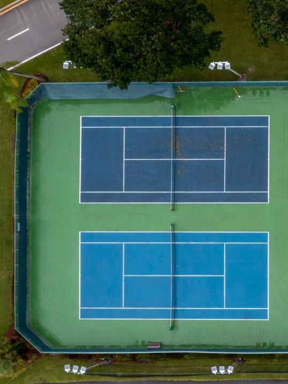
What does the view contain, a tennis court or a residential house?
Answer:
tennis court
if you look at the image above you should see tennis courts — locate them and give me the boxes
[80,231,269,319]
[80,116,269,203]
